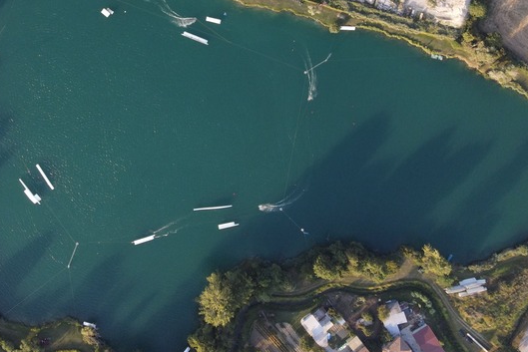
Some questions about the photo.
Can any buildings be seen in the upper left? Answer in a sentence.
No, looking in the upper left, there is no building.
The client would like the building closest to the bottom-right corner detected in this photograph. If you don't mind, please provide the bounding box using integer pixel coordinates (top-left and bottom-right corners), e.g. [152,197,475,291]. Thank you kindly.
[410,322,444,352]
